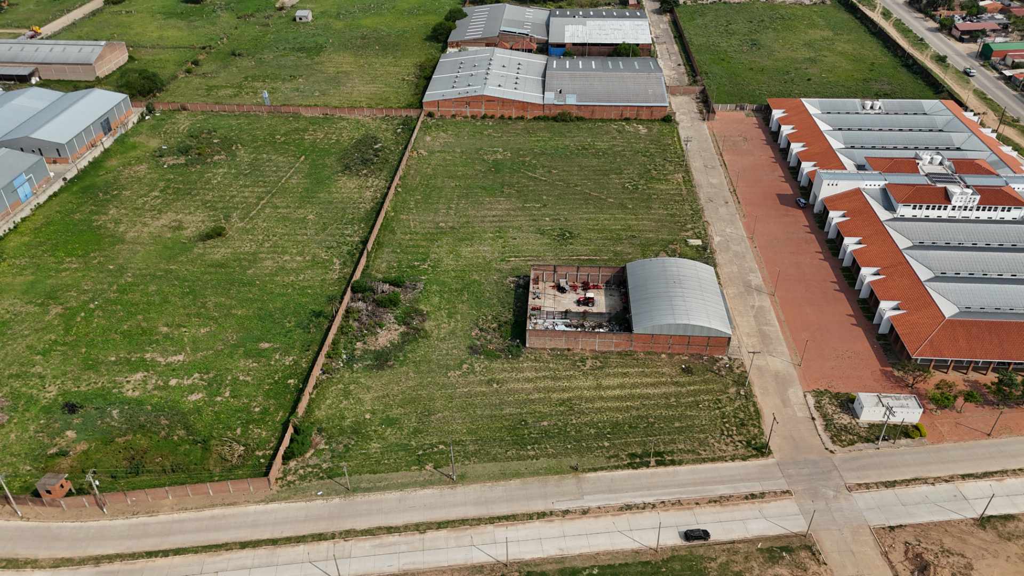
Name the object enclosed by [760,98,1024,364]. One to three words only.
building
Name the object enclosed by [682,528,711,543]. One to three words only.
car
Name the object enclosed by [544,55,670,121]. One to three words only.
building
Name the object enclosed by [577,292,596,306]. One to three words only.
work vehicle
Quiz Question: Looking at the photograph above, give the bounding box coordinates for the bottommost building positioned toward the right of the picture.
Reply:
[852,392,926,428]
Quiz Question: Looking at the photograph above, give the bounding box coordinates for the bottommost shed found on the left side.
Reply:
[38,470,80,495]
